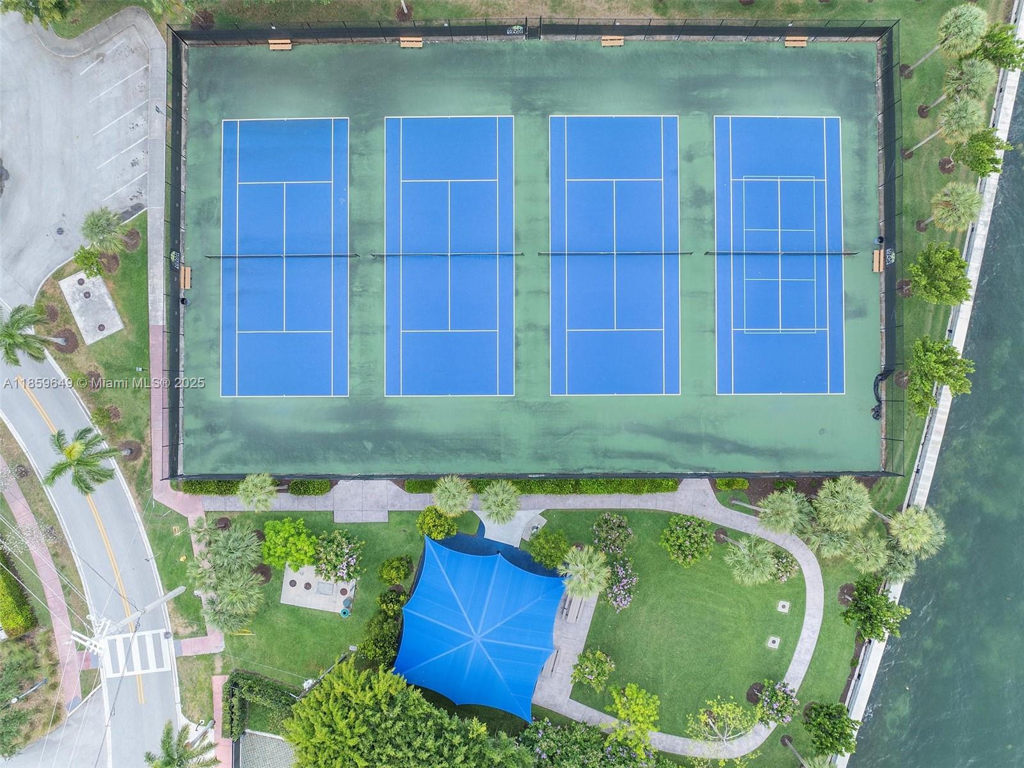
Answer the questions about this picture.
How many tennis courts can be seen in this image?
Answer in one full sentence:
The count of tennis courts comes to 4.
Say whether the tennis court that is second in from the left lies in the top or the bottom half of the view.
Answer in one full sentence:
The tennis court that is second in from the left sits in the top half of the picture.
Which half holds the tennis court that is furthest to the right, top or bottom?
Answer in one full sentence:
The top half of the photo is where the tennis court that is furthest to the right is.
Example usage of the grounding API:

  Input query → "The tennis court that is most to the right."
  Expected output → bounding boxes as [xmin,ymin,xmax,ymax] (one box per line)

[703,116,861,394]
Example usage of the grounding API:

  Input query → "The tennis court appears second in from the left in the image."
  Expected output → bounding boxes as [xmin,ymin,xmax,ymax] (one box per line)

[371,117,526,395]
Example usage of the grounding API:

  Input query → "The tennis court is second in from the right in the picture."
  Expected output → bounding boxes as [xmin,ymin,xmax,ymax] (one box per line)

[539,116,694,394]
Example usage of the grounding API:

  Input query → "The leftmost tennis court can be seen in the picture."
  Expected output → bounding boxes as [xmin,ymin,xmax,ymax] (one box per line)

[204,119,361,397]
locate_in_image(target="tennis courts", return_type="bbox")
[539,116,694,394]
[204,119,361,397]
[371,117,526,395]
[703,116,861,394]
